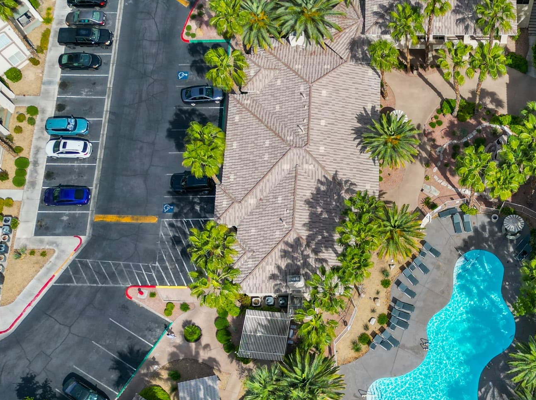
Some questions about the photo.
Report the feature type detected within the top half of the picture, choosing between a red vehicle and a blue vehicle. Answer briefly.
blue vehicle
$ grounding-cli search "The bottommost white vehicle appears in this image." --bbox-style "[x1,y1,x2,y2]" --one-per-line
[44,135,95,159]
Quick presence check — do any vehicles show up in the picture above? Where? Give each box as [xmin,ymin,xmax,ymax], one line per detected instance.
[179,84,225,106]
[56,50,104,72]
[67,0,108,10]
[58,373,110,400]
[66,7,108,27]
[44,184,93,206]
[54,23,116,47]
[43,115,91,138]
[172,174,216,194]
[44,135,95,159]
